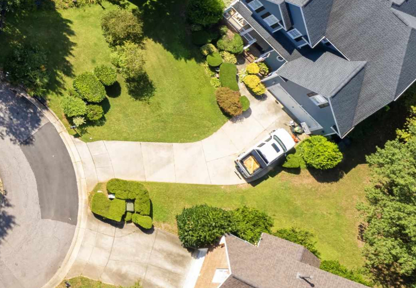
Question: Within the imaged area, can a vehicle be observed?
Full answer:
Yes, a vehicle is visible in the scene.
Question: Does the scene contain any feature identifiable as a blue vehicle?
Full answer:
No, no blue vehicle is visible in the scene.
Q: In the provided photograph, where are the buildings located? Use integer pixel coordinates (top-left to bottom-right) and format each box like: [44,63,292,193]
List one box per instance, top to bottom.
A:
[223,0,416,139]
[194,233,370,288]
